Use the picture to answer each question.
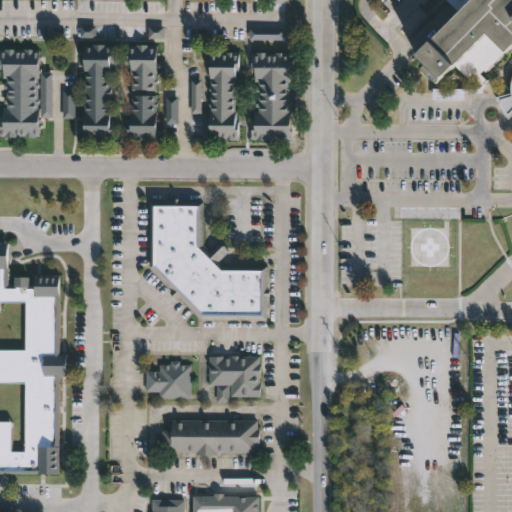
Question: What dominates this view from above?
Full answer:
The bulk of the photo consists of paved ground.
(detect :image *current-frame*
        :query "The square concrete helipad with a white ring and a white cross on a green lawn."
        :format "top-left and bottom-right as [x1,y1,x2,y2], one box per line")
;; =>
[410,228,450,267]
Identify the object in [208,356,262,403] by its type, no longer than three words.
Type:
house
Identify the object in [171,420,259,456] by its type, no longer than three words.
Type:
house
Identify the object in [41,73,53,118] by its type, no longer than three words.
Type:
building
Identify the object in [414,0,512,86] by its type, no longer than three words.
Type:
building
